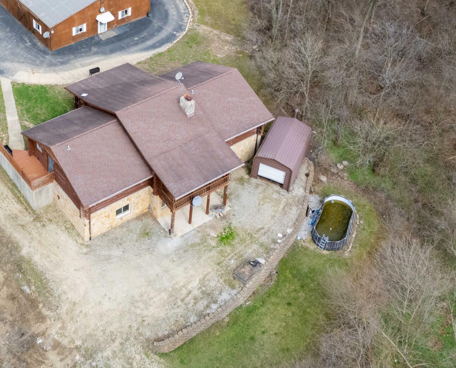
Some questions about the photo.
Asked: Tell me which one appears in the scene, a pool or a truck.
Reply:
pool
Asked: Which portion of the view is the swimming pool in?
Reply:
right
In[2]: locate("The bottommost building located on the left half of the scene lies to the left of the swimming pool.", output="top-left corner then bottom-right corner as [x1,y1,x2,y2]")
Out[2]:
[22,60,275,248]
